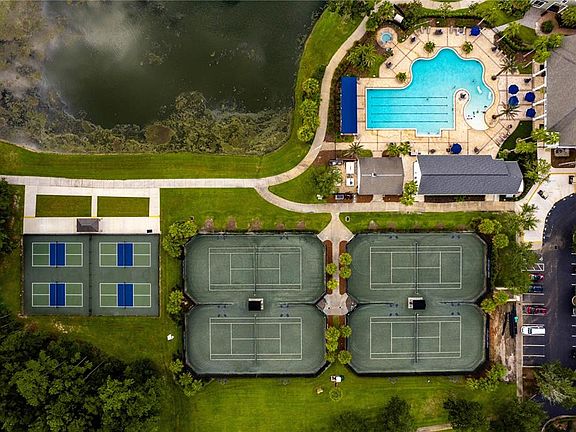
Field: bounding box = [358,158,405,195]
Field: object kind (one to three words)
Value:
building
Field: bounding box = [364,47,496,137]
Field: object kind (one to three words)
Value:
swimming pool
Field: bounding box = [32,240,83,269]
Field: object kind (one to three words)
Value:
sports court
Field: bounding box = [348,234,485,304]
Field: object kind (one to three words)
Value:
tennis court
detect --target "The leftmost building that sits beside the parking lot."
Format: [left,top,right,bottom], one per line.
[416,155,526,200]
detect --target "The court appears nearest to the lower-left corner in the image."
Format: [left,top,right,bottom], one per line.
[32,281,83,309]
